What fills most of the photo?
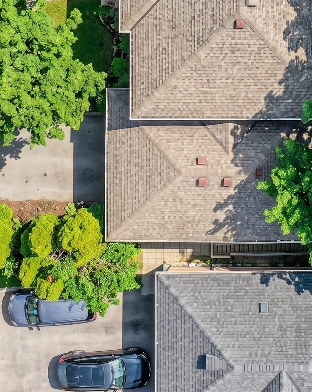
buildings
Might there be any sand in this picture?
No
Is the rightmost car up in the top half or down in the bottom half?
bottom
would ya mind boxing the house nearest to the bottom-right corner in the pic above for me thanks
[154,263,312,392]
